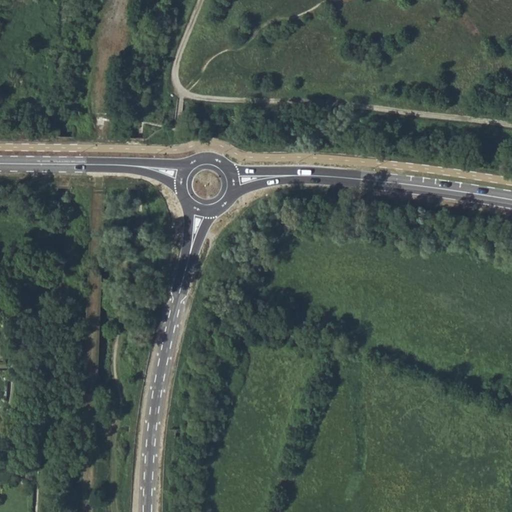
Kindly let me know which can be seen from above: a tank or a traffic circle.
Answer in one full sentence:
Visible in the photo is a traffic circle.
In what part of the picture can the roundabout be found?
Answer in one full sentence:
The roundabout is in the center part of the image.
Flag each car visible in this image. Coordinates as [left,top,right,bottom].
[477,189,488,194]
[311,178,321,183]
[440,182,450,187]
[75,165,85,170]
[245,168,254,174]
[268,179,278,184]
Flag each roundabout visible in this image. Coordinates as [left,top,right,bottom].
[86,152,362,292]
